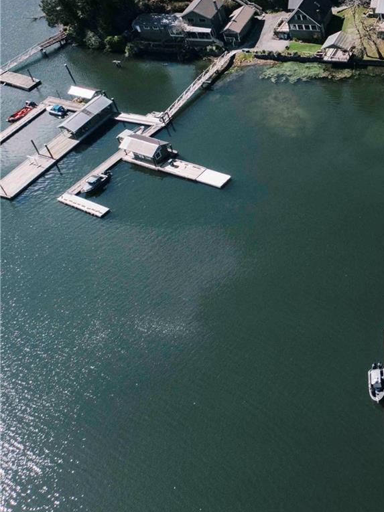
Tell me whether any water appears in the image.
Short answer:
Yes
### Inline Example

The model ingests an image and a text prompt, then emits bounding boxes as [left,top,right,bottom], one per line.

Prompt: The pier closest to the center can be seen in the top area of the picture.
[198,169,231,190]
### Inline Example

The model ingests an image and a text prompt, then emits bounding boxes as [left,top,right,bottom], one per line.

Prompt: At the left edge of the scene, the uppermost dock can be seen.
[0,25,75,75]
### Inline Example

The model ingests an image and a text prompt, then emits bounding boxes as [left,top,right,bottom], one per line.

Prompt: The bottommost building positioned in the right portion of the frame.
[321,30,356,74]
